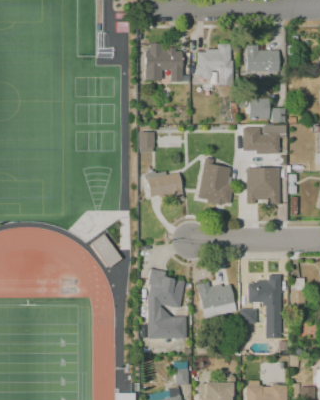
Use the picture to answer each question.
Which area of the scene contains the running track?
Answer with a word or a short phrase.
bottom left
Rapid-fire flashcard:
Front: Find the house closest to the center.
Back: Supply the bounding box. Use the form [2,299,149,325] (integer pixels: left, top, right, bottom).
[144,168,182,199]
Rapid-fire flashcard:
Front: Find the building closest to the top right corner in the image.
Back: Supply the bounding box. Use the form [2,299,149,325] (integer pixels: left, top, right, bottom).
[240,45,280,76]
